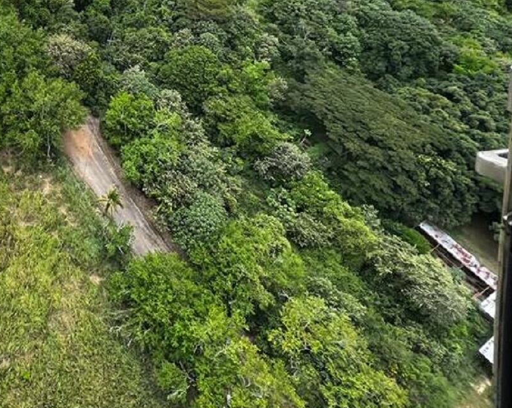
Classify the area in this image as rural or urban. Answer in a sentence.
The area is rural.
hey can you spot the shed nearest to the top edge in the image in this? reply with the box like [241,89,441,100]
[412,223,502,303]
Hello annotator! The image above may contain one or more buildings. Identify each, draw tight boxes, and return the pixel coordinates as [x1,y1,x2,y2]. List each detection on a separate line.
[412,223,502,303]
[477,339,499,377]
